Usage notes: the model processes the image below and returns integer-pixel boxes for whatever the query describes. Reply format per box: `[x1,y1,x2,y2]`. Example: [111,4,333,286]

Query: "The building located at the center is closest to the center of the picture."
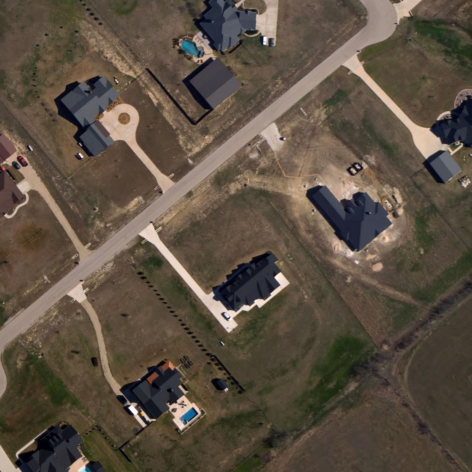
[218,251,284,312]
